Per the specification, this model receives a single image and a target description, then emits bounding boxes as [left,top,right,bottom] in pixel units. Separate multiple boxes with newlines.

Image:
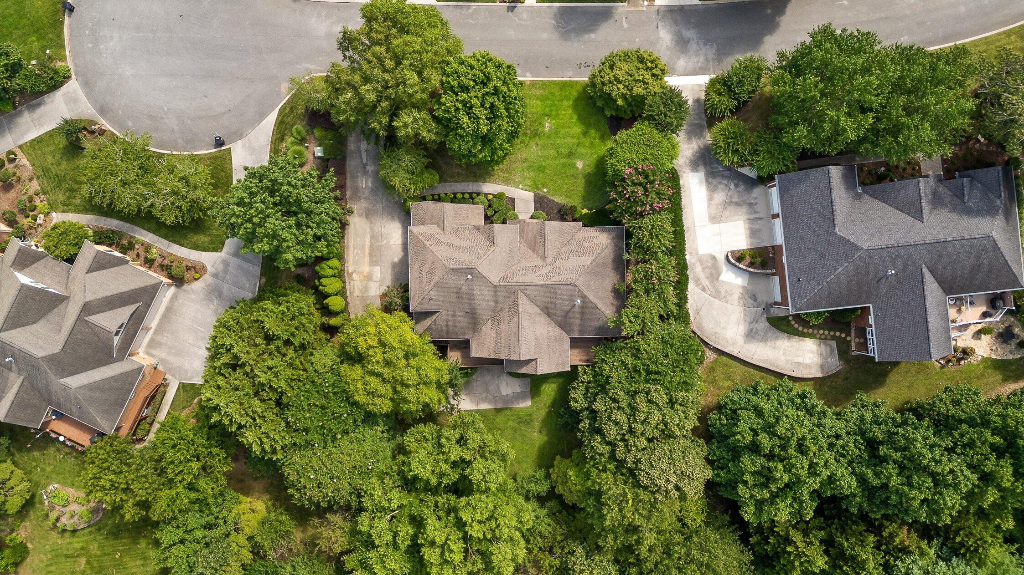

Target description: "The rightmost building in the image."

[767,165,1024,362]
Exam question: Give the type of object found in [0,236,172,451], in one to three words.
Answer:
house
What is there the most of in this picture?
trees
